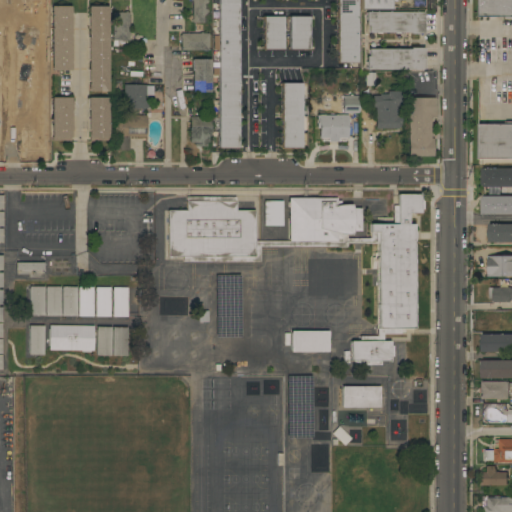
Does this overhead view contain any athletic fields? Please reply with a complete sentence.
Yes, an athletic field appears in the view.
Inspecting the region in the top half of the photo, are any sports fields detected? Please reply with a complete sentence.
No, no sports field can be made out in the top half of the photo.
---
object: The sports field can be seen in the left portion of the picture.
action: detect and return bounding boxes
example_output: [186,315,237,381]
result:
[25,376,196,512]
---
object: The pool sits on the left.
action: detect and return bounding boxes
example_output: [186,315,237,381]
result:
[148,120,162,146]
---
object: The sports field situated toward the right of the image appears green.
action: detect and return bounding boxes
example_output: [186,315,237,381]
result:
[332,446,430,512]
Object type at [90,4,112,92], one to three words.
building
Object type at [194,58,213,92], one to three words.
house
